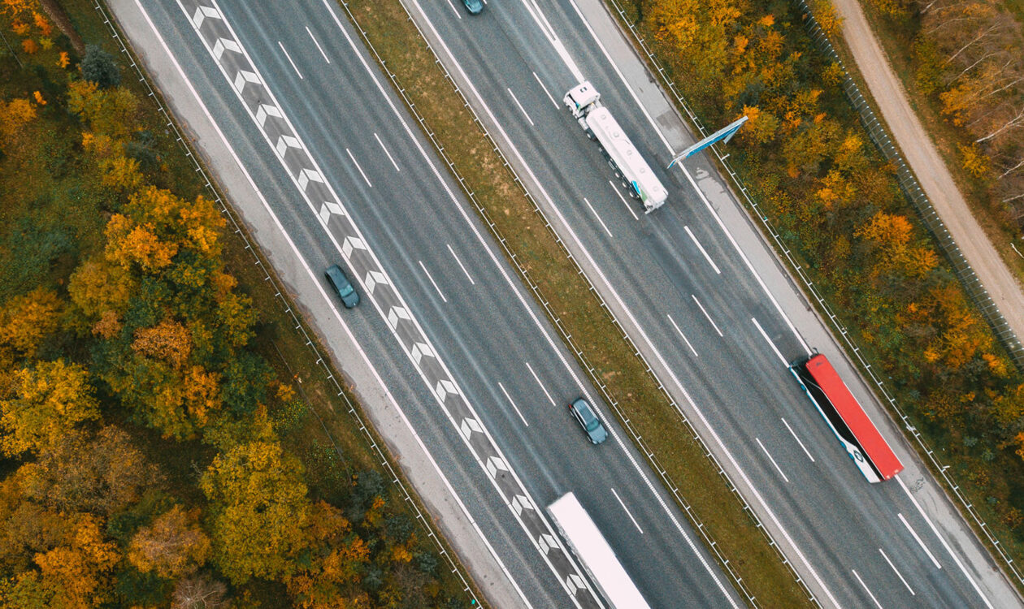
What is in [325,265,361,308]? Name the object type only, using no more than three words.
car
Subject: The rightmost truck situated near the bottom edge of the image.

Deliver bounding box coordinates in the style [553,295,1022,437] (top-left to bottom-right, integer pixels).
[548,492,650,609]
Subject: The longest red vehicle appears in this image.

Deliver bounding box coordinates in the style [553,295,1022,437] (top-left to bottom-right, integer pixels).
[789,347,907,483]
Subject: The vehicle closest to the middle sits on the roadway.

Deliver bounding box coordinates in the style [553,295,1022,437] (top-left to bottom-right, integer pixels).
[569,396,608,443]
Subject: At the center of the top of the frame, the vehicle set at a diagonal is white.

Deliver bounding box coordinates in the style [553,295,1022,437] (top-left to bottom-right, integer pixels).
[562,76,668,214]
